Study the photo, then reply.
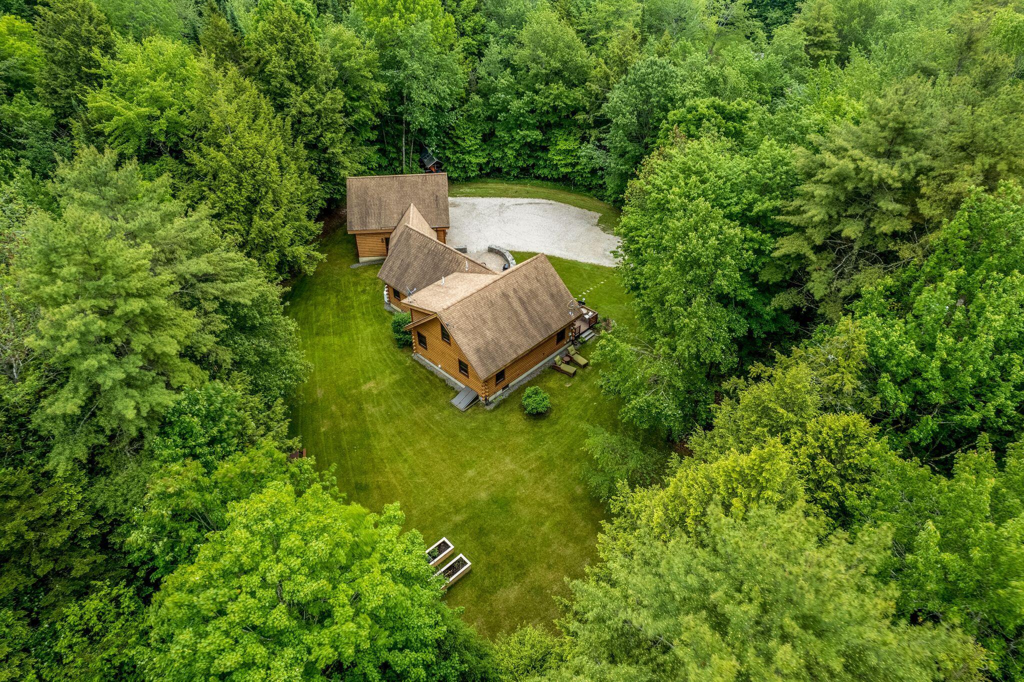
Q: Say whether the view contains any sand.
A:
No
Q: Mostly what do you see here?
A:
trees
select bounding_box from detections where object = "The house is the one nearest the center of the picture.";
[378,203,583,402]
